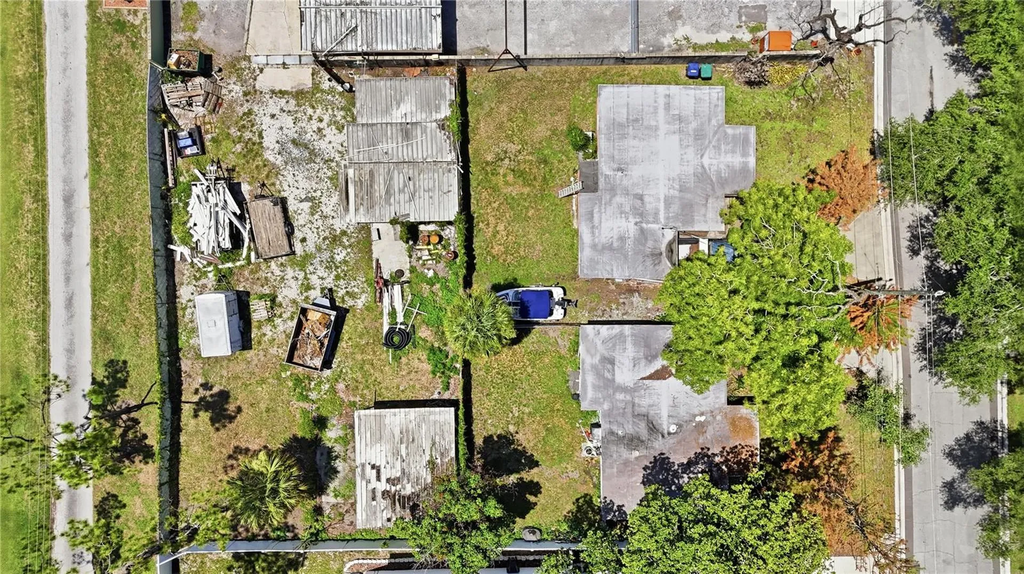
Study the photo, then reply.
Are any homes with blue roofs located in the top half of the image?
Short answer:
No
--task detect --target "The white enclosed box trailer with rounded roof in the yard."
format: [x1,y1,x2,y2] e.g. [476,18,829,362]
[195,275,244,357]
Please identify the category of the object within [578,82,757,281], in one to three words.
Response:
house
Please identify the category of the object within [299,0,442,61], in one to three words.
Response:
shed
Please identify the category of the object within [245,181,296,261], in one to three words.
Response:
trailer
